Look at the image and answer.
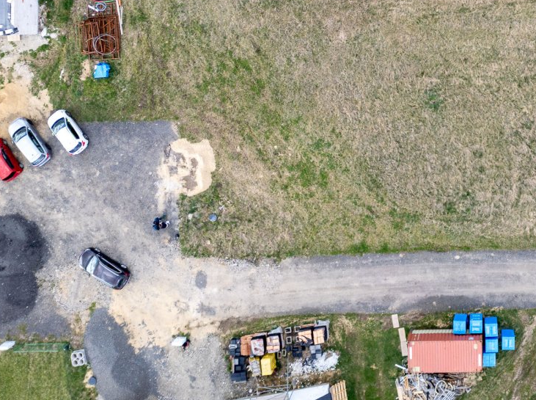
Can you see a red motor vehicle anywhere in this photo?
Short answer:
Yes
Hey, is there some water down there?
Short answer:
No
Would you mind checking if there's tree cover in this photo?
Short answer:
No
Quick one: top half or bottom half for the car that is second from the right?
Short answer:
top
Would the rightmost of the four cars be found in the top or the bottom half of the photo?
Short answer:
bottom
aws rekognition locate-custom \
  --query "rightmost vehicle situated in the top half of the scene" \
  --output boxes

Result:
[49,108,90,157]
